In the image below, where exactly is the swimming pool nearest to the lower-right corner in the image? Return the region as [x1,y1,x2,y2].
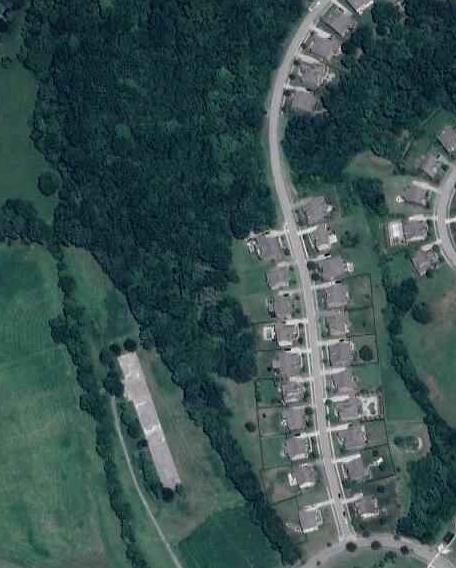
[363,398,379,420]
